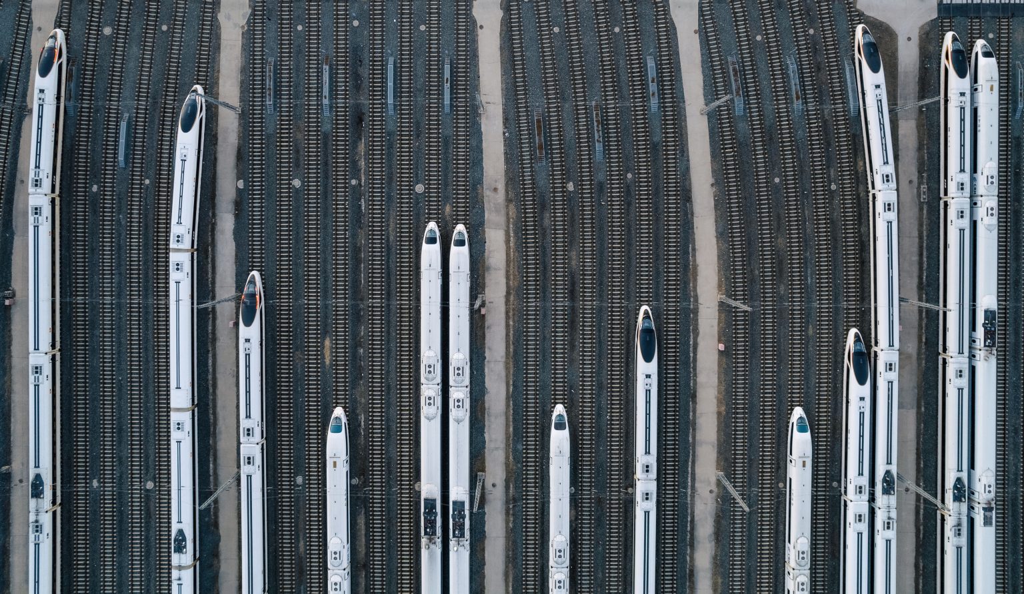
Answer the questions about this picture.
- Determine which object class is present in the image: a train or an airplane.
train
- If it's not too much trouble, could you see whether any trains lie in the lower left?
Yes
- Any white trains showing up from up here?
Yes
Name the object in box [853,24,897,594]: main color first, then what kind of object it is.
white train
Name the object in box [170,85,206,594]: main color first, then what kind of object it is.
white train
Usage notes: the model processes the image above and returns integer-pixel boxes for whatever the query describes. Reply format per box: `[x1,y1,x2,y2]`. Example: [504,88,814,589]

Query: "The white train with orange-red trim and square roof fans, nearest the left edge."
[29,29,68,594]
